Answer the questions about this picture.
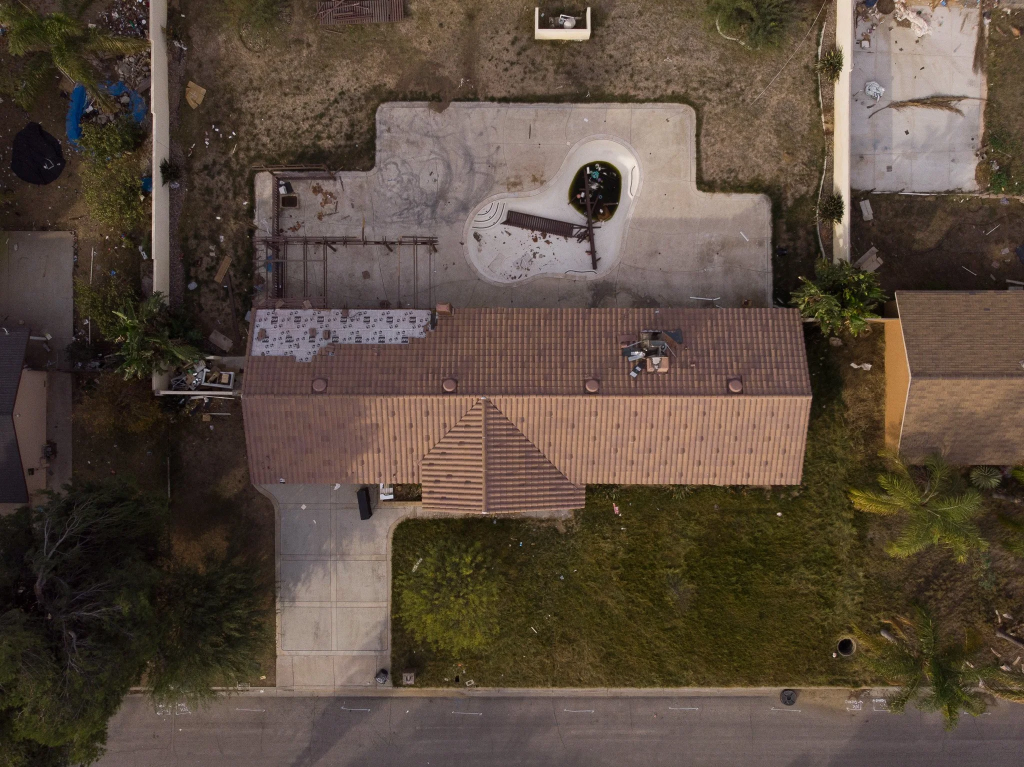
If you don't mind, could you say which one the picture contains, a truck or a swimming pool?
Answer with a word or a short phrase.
swimming pool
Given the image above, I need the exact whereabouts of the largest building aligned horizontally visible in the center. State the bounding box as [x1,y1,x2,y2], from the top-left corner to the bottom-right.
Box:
[240,303,814,518]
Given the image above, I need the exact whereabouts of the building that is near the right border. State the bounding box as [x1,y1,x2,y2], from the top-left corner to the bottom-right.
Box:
[885,290,1024,465]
